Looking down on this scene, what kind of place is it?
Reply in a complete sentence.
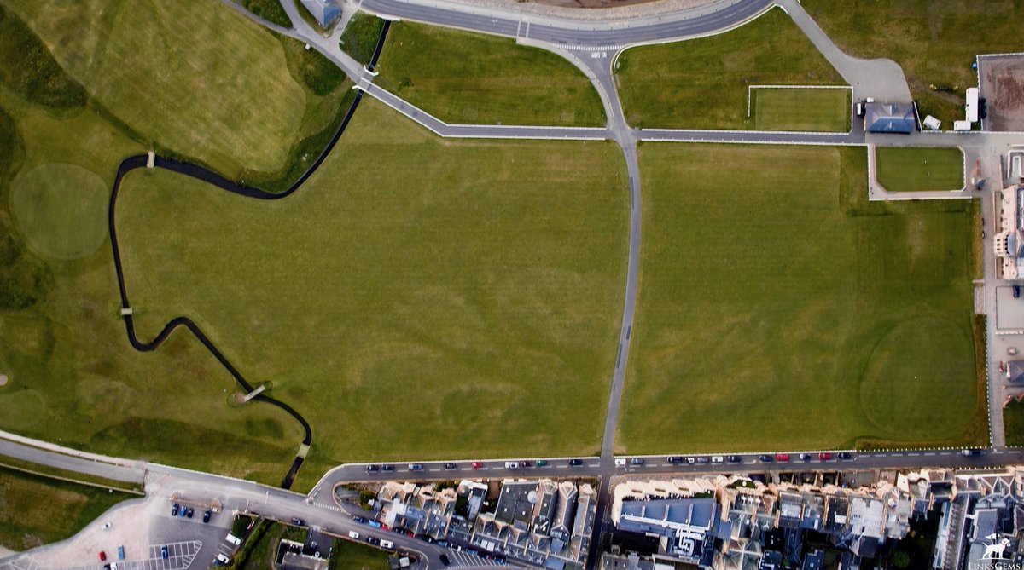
The area seen from above is a golf course.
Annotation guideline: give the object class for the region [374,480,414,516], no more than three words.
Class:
house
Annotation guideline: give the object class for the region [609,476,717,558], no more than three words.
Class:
building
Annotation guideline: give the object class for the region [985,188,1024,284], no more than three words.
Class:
building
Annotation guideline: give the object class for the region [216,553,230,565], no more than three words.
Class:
vehicle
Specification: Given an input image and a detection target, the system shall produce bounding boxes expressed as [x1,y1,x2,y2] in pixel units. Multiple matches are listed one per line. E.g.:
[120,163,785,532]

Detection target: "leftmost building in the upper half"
[301,0,345,30]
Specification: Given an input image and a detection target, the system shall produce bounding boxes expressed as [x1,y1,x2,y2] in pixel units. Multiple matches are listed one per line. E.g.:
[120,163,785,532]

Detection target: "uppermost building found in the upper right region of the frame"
[861,101,916,134]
